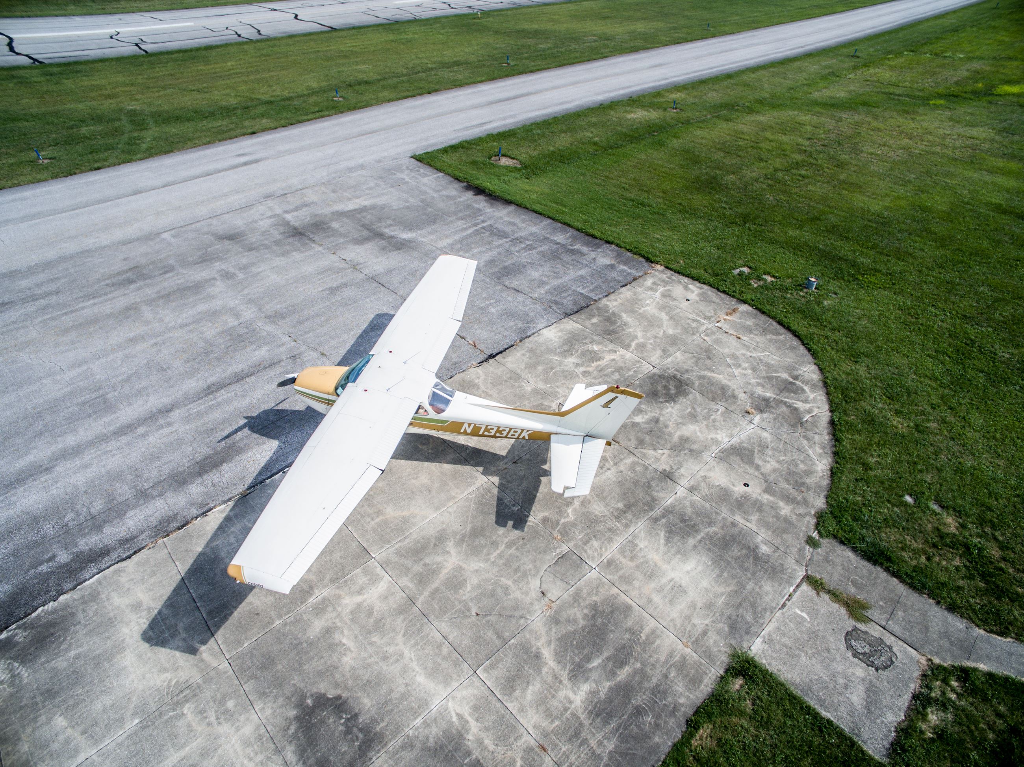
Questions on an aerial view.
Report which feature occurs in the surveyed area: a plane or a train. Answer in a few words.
plane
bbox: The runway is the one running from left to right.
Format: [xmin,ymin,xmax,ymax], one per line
[0,0,581,68]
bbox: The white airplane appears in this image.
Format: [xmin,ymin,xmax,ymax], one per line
[228,252,643,597]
